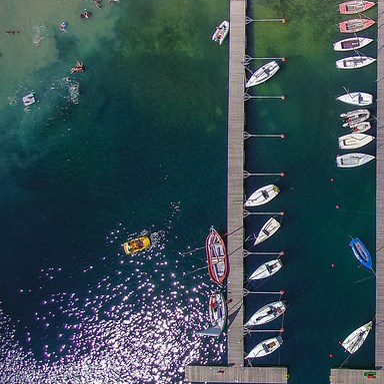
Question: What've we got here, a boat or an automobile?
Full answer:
It is a boat that can be seen here.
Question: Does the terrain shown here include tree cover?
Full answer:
No, no tree cover is visible.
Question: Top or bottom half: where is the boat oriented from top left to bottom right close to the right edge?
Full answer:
It is in the bottom half that the boat oriented from top left to bottom right close to the right edge appears.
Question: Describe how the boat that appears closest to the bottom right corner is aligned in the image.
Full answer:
In this picture, the boat that appears closest to the bottom right corner lies at an angle.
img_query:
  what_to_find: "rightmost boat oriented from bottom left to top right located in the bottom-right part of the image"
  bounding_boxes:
[340,316,376,365]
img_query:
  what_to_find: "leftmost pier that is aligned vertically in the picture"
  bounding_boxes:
[227,0,248,367]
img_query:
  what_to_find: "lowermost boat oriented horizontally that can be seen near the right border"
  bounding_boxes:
[336,152,375,166]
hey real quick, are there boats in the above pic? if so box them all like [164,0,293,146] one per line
[196,292,228,339]
[351,237,376,275]
[185,228,229,284]
[241,337,283,371]
[337,9,379,32]
[337,0,376,14]
[337,133,378,149]
[332,30,373,52]
[335,50,377,70]
[336,152,375,166]
[337,90,375,106]
[245,258,285,283]
[340,316,376,365]
[343,110,371,125]
[242,301,289,335]
[214,19,228,45]
[239,183,282,206]
[249,218,280,247]
[344,121,372,134]
[239,59,281,90]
